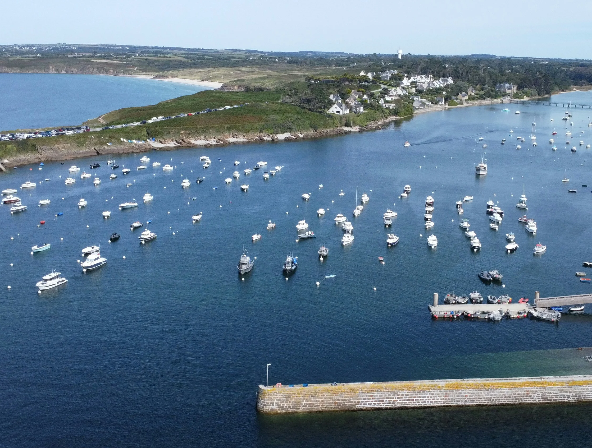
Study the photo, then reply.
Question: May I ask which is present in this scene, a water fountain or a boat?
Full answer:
There is a boat in the scene.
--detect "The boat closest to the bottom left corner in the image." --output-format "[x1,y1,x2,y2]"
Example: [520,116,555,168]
[40,274,68,291]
